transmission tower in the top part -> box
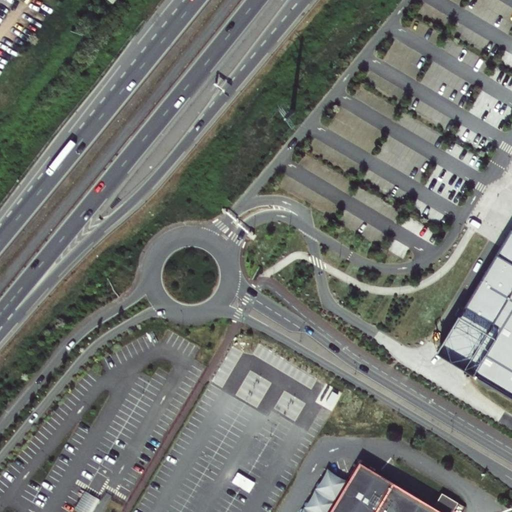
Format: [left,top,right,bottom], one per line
[278,104,297,128]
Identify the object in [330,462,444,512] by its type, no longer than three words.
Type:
building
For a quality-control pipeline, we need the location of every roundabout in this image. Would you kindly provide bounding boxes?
[128,220,244,324]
